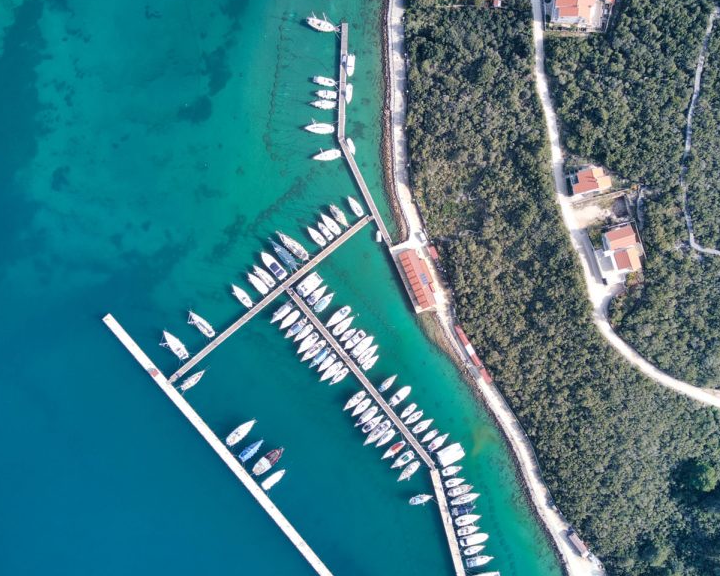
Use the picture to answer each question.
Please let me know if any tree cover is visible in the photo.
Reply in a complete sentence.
Yes, there is tree cover in the image.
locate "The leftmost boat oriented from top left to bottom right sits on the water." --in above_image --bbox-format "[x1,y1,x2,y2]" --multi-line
[160,331,188,360]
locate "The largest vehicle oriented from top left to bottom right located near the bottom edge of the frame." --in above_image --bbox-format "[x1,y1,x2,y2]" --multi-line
[570,533,589,559]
